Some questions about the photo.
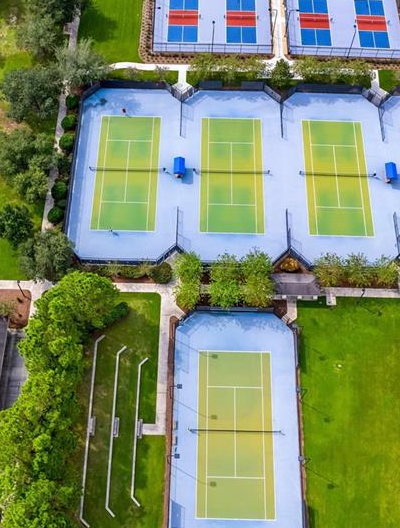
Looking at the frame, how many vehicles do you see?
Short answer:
0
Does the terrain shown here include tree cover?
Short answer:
Yes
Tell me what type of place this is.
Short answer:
sports ground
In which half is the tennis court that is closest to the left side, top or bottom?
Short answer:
top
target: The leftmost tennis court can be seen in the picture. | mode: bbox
[68,89,181,255]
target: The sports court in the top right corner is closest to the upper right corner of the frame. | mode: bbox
[340,0,400,58]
